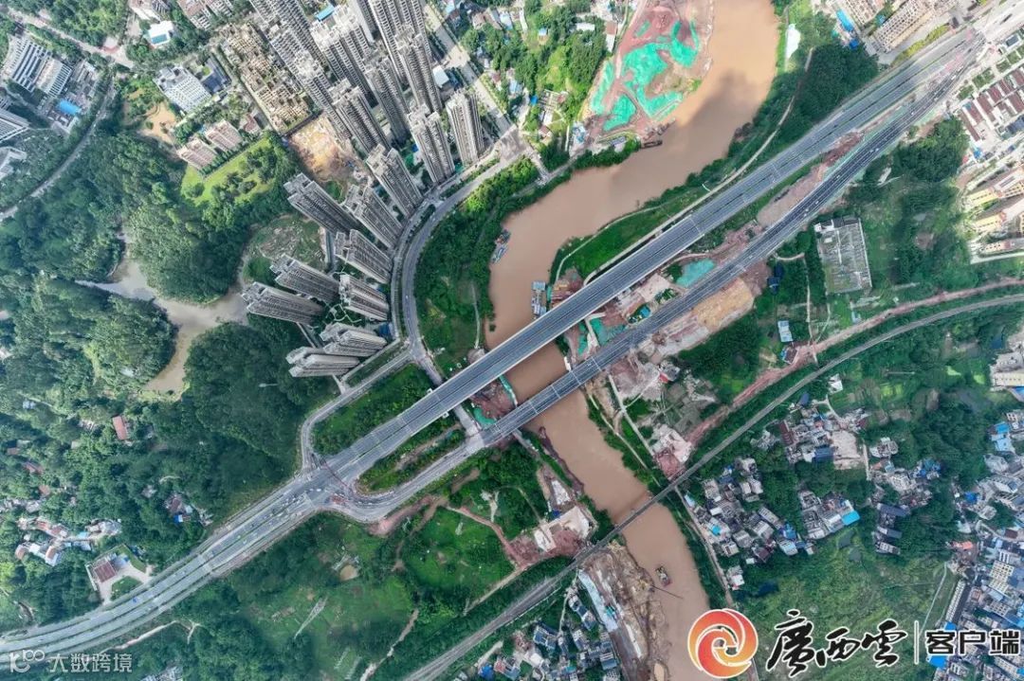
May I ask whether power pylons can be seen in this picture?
Yes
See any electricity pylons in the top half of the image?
No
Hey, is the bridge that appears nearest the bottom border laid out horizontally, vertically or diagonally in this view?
diagonally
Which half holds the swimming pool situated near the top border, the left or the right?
left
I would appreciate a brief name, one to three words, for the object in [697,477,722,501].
house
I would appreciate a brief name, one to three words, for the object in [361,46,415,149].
building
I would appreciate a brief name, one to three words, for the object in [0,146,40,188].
building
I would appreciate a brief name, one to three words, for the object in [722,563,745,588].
house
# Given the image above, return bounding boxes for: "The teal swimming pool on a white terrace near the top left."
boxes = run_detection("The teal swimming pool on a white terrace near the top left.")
[148,20,170,44]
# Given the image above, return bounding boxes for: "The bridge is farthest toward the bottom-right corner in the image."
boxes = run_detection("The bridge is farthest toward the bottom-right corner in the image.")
[595,485,667,544]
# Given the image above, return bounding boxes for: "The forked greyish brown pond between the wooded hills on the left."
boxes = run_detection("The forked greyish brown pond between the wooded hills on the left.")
[76,244,251,390]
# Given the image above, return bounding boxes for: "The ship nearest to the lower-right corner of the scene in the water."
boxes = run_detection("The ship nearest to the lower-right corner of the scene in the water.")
[654,561,674,587]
